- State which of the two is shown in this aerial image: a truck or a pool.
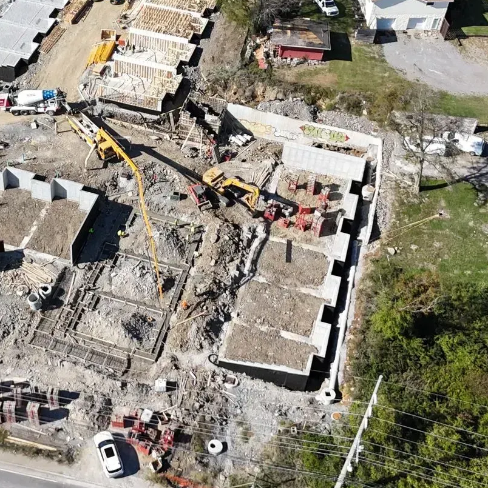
truck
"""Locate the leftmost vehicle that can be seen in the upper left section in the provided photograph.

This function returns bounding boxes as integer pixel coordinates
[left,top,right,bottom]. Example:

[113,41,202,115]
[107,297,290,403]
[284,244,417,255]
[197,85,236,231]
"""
[0,89,74,117]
